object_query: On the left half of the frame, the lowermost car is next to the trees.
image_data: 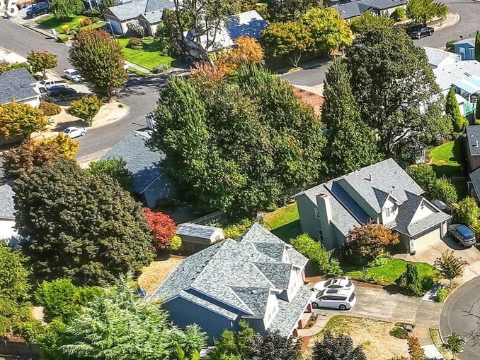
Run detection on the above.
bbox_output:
[59,124,88,136]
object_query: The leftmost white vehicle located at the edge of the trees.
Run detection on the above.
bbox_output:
[34,77,65,91]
